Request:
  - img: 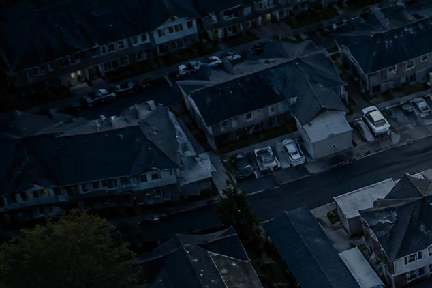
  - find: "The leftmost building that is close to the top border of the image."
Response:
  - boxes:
[0,0,194,102]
